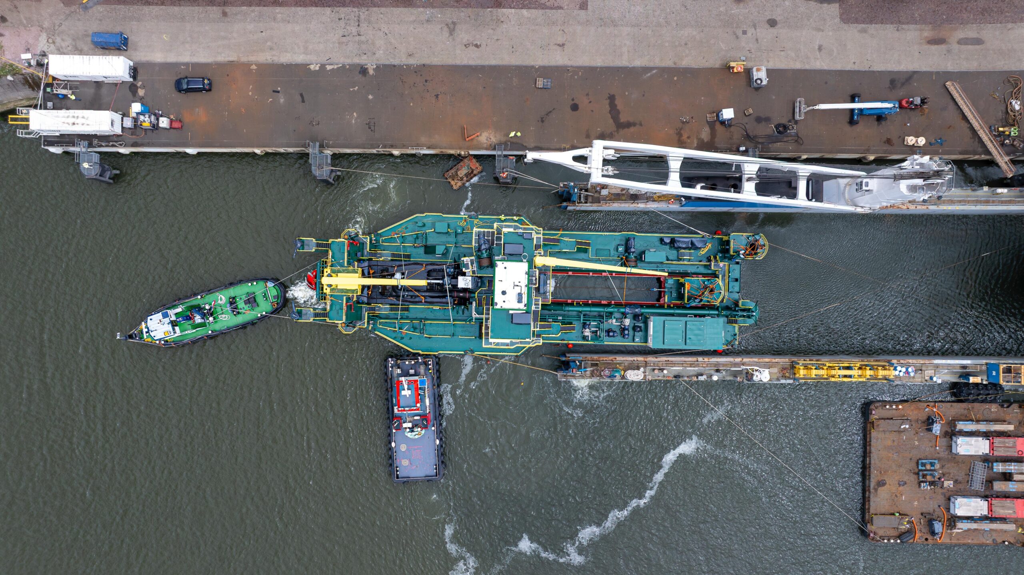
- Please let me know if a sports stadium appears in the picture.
No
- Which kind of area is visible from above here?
port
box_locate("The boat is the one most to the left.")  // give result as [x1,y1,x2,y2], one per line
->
[117,275,289,348]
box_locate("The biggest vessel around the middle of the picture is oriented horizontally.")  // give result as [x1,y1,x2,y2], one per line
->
[291,213,768,357]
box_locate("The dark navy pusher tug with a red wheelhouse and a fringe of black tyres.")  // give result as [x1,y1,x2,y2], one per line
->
[384,353,446,486]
